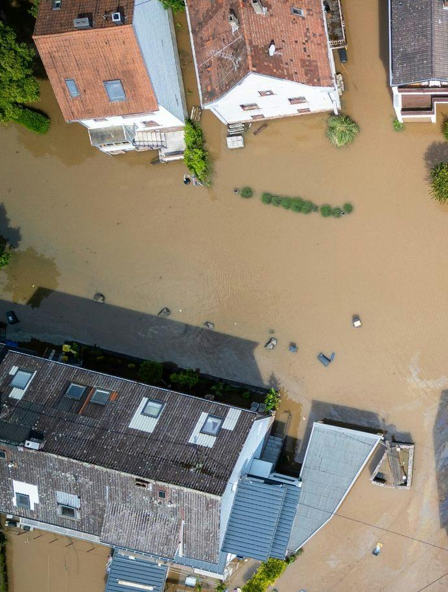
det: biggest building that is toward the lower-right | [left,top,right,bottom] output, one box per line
[289,423,383,550]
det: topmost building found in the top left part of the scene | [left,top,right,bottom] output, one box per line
[32,0,188,138]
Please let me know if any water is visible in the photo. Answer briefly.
Yes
